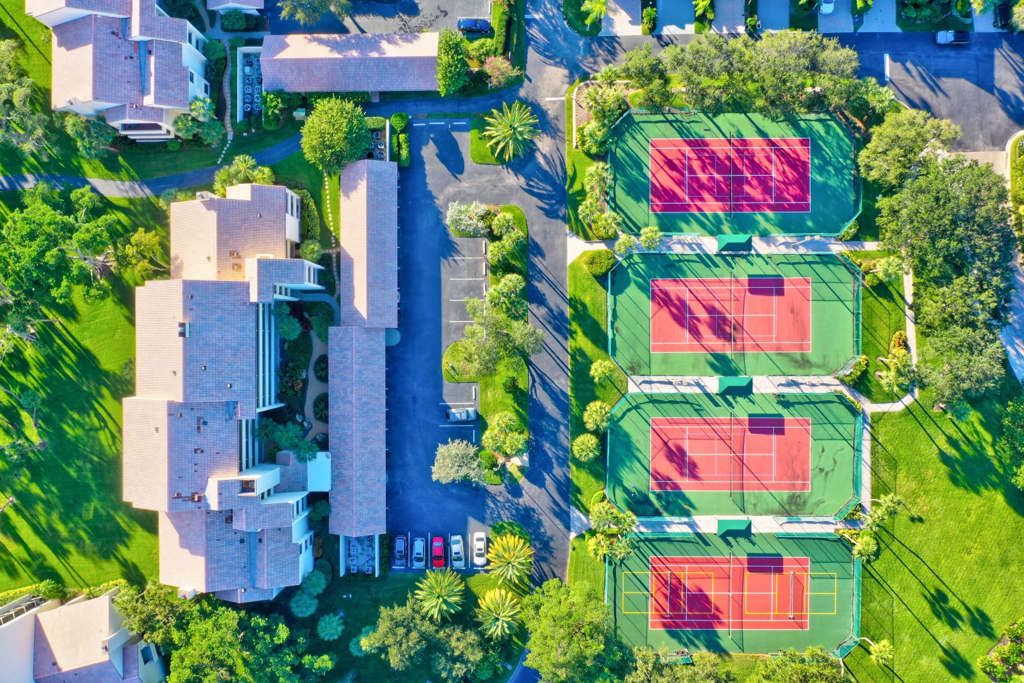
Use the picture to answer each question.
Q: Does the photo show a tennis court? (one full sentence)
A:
Yes, there's a tennis court here.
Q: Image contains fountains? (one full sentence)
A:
No, I can see no fountain in this picture.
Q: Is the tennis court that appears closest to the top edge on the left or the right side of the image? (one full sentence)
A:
It is on the right.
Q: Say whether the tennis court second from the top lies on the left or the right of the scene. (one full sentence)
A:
It is on the right.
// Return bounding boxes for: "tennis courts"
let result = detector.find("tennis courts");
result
[610,255,854,376]
[608,394,854,516]
[610,112,854,235]
[607,534,853,654]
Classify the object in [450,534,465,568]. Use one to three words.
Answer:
car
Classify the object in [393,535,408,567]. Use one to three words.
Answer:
car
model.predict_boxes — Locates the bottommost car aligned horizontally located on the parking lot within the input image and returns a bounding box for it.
[446,408,475,422]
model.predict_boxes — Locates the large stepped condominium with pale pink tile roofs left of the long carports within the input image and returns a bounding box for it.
[123,184,331,603]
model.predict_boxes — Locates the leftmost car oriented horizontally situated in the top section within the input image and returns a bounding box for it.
[458,18,491,34]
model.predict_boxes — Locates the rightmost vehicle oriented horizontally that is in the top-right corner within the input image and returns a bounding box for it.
[934,29,970,46]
